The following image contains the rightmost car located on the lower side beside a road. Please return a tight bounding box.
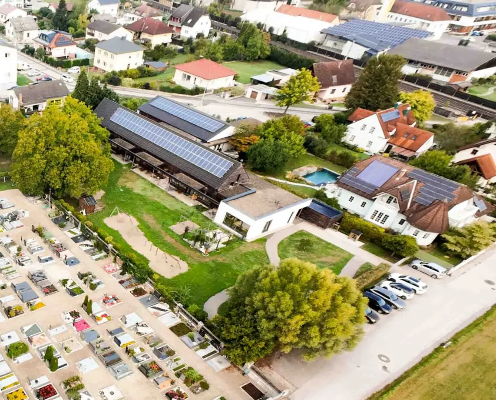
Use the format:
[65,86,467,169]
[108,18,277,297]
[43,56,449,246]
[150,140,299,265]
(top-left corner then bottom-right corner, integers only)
[411,260,450,278]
